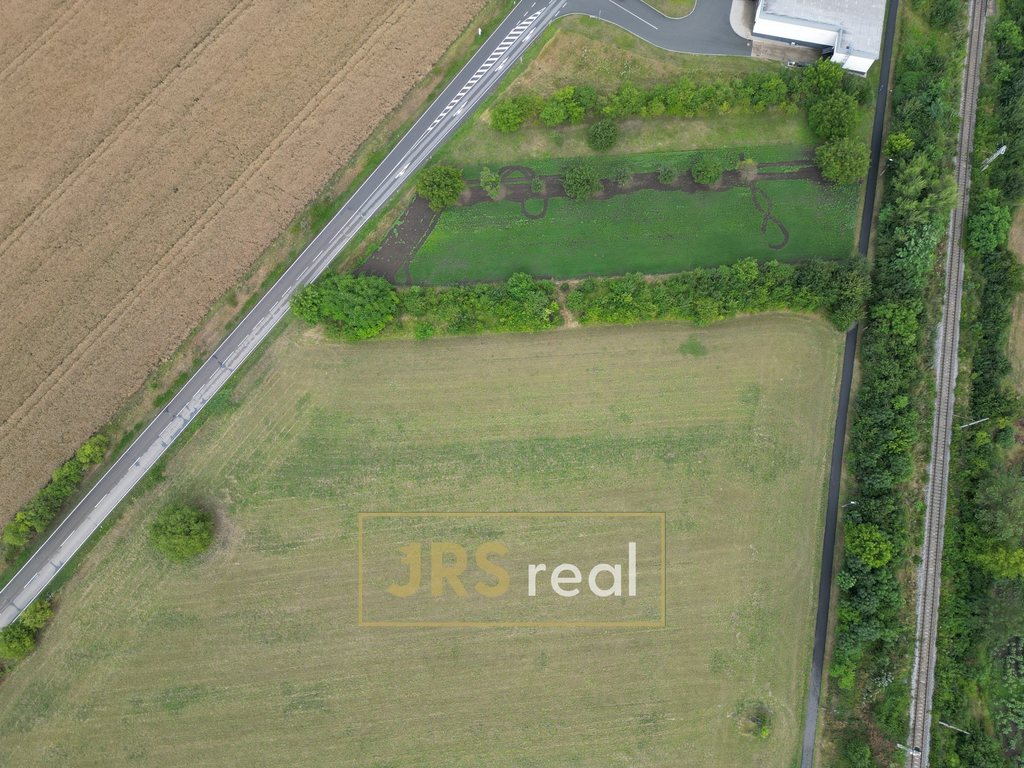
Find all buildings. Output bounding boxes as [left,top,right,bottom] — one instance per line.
[752,0,883,75]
